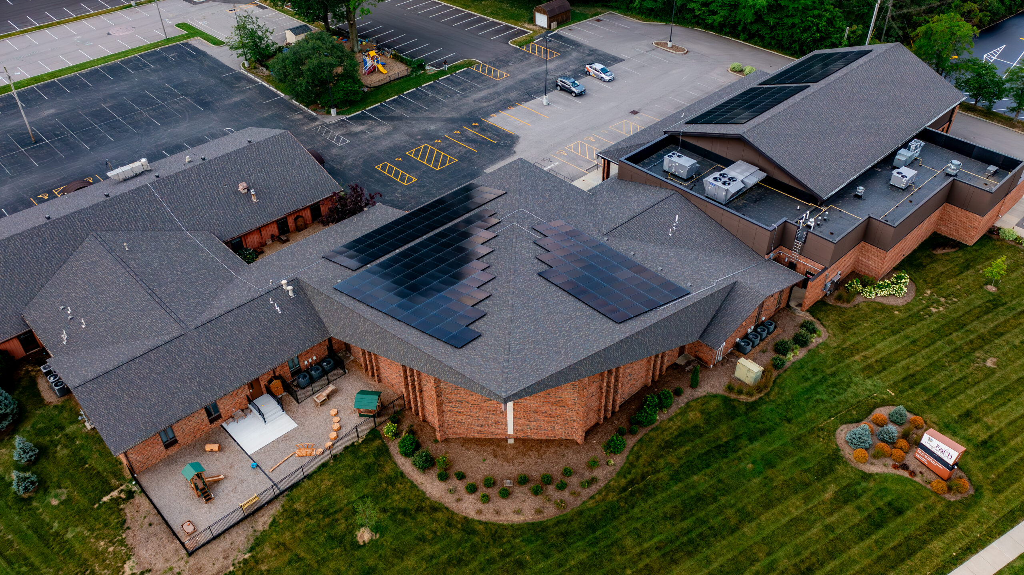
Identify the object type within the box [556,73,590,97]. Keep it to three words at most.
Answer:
car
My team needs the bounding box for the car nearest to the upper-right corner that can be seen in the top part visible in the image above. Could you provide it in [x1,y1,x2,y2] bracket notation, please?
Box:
[584,61,617,82]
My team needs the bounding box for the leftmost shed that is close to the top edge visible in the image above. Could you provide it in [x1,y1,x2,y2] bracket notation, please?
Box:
[283,14,312,41]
